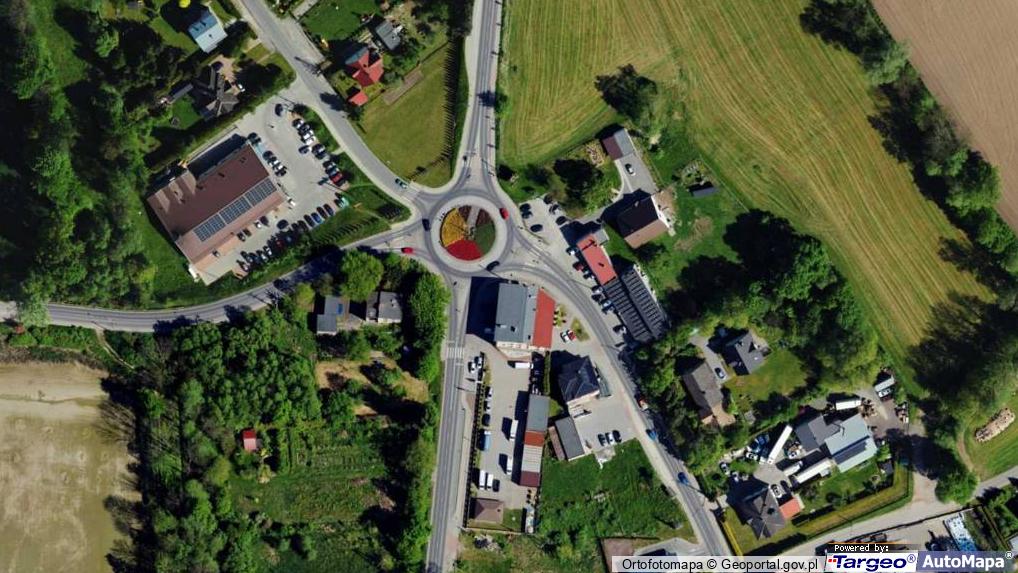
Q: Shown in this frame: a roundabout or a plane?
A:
roundabout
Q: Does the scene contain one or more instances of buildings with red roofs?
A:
Yes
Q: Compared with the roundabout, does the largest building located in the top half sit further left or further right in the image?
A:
on its left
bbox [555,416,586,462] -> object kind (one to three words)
shed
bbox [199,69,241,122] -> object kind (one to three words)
house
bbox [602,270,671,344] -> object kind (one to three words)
building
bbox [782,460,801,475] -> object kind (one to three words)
vehicle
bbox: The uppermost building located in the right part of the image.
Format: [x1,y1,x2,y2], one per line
[603,130,633,161]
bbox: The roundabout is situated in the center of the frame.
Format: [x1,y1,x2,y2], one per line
[422,186,516,280]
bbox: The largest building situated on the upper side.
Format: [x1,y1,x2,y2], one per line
[147,143,287,265]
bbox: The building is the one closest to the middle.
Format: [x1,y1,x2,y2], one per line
[495,283,556,362]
